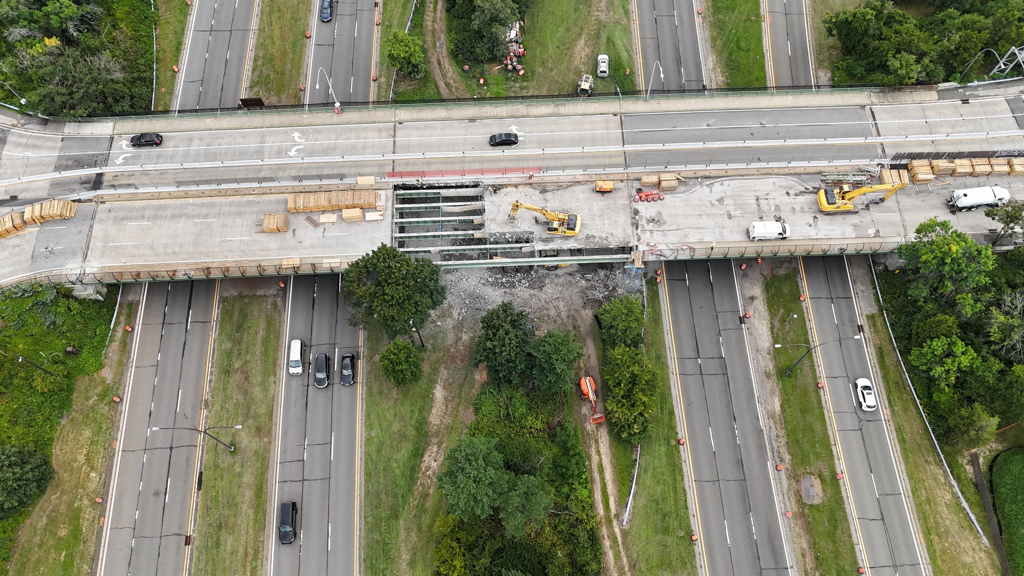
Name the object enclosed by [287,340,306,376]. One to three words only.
car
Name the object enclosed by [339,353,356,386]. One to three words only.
car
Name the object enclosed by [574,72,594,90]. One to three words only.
work vehicle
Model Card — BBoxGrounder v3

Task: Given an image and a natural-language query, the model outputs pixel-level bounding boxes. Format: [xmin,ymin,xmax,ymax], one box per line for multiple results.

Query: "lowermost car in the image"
[277,501,298,544]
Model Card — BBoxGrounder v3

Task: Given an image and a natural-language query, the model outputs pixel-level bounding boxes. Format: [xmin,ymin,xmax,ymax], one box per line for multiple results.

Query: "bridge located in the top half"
[75,93,909,297]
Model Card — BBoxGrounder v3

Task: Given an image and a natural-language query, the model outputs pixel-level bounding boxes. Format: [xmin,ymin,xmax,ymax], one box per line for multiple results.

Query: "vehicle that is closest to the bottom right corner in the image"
[854,378,876,412]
